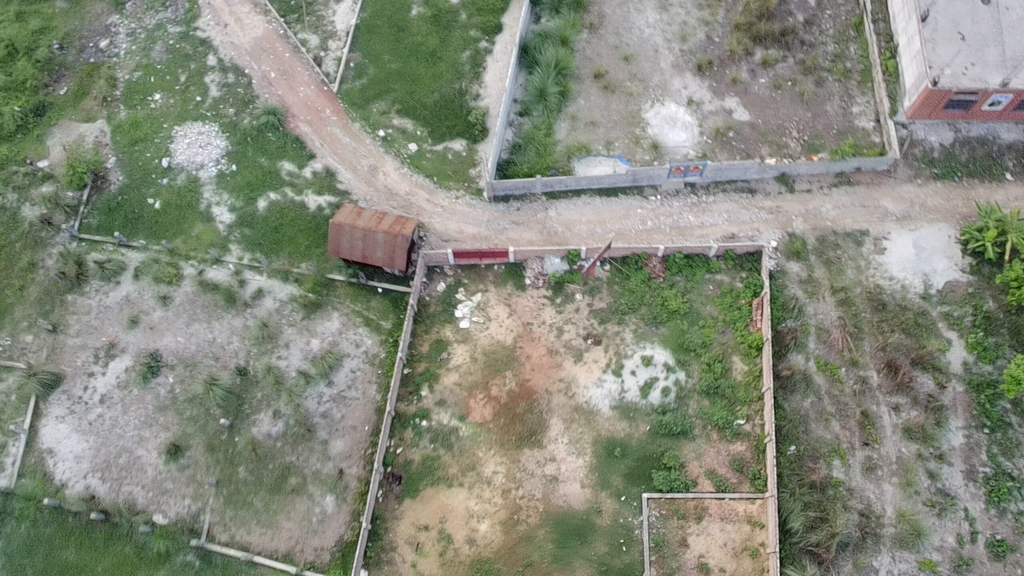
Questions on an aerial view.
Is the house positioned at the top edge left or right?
right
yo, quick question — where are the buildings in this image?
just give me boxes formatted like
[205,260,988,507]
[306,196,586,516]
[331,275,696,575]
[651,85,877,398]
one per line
[328,203,419,280]
[879,0,1024,126]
